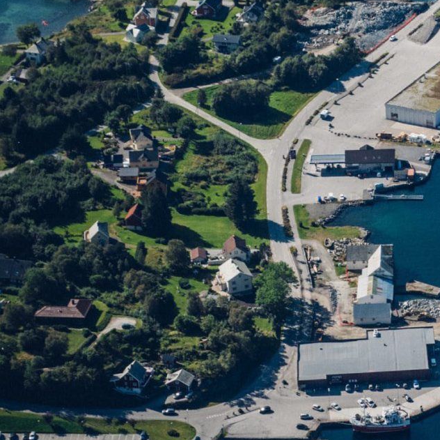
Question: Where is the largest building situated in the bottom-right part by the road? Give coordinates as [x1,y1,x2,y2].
[298,325,435,393]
